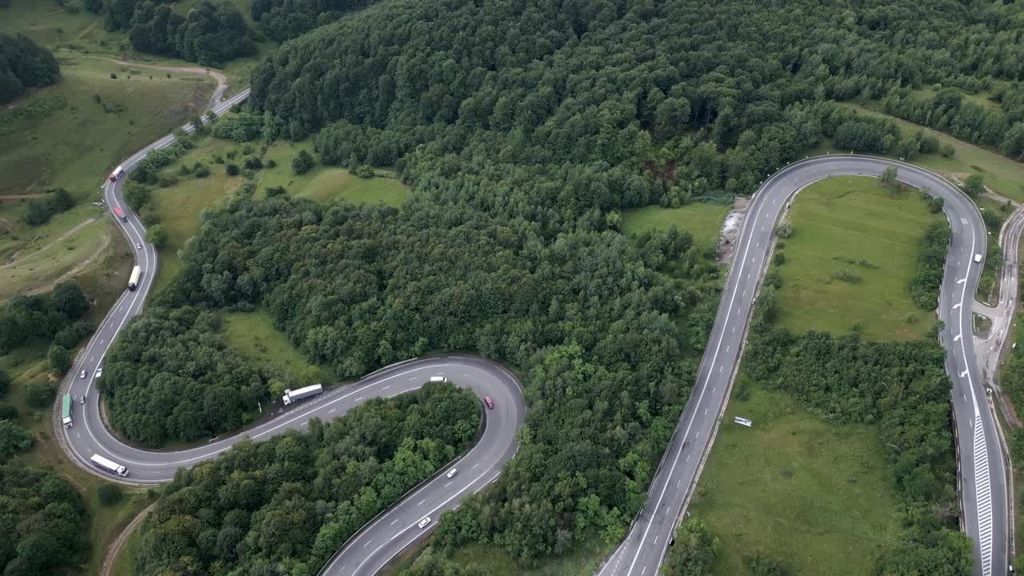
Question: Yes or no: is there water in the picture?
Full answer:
No, no water is visible.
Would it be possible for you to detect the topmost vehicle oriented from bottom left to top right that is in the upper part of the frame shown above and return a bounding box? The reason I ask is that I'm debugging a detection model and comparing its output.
[109,166,125,183]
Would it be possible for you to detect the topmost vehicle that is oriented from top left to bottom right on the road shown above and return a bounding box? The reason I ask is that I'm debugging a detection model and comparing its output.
[113,205,128,223]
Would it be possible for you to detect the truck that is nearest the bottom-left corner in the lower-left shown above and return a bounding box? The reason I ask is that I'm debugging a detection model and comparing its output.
[86,452,131,477]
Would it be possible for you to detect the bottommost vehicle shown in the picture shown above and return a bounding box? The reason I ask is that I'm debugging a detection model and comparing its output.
[416,517,432,530]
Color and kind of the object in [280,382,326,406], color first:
white truck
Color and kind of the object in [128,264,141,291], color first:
white vehicle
